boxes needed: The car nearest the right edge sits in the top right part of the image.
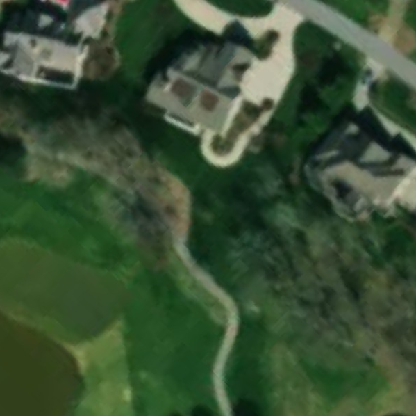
[360,70,373,87]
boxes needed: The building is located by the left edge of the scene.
[0,0,118,87]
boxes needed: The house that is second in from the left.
[141,23,266,135]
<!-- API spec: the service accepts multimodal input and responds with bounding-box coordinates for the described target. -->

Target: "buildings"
[306,111,416,212]
[141,23,266,135]
[0,0,118,87]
